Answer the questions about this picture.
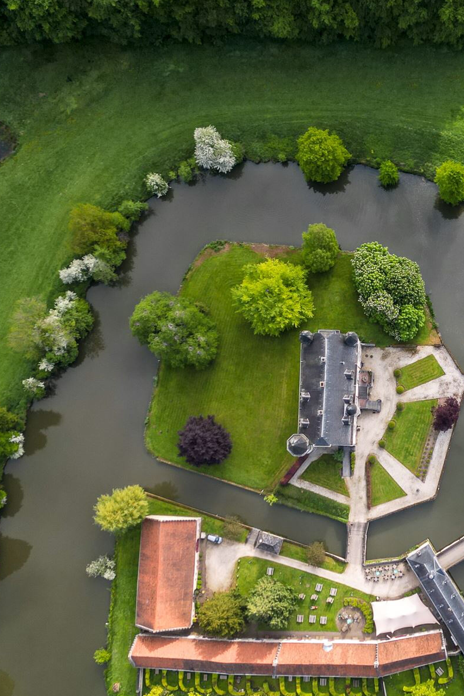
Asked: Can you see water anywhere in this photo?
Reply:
Yes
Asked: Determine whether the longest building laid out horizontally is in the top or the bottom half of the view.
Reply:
bottom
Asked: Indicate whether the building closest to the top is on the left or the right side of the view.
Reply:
right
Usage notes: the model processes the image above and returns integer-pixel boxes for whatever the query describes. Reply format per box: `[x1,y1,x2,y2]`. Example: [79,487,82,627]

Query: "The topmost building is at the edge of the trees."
[287,330,362,456]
